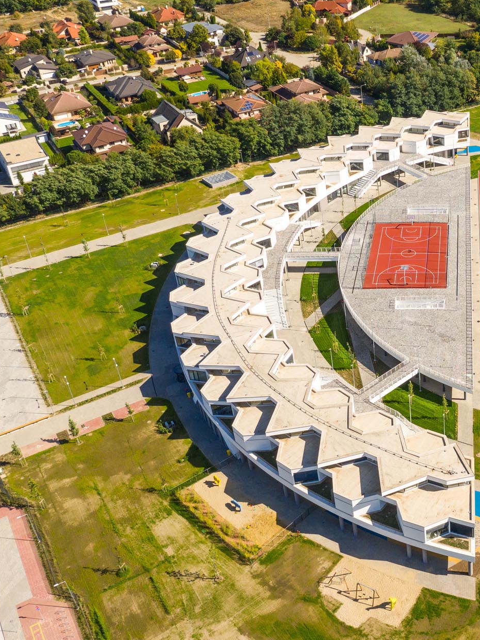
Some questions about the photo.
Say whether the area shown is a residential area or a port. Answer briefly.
residential area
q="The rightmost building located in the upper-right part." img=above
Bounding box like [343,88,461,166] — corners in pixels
[385,21,439,49]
